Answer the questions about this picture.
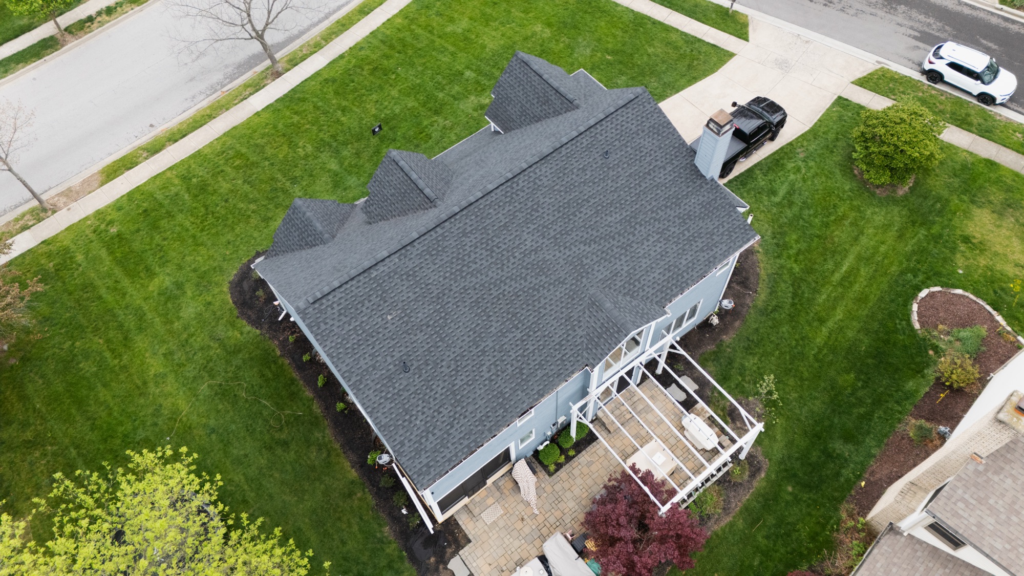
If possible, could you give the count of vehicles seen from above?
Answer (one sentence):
Altogether the scene contains 2 vehicles.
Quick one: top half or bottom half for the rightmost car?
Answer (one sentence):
The top half of the photo is where the rightmost car is.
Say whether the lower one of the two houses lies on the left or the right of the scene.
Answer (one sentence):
The lower one of the two houses sits on the right side.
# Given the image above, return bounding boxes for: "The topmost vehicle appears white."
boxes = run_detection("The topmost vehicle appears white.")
[920,42,1018,106]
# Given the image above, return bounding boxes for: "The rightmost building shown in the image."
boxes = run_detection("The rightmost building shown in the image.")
[842,349,1024,576]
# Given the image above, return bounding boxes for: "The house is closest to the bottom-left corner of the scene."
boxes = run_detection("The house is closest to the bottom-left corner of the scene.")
[243,51,762,526]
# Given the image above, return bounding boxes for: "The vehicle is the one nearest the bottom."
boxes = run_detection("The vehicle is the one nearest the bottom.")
[720,95,795,176]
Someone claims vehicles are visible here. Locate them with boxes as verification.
[720,95,795,176]
[920,42,1018,106]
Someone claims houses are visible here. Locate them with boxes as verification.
[842,349,1024,576]
[243,51,762,526]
